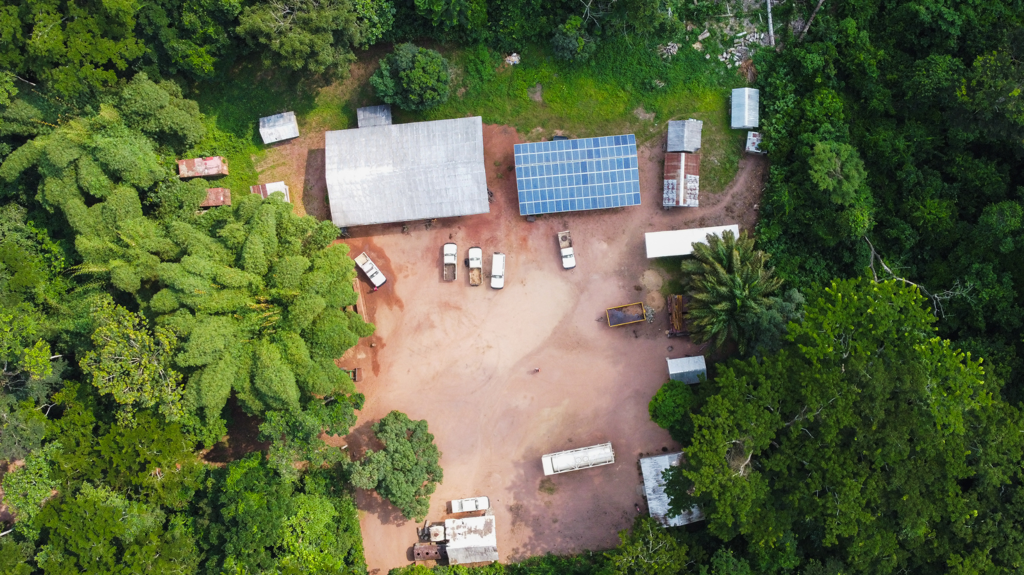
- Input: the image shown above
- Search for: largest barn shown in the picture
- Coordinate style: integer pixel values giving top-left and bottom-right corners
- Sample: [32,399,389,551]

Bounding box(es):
[325,116,490,226]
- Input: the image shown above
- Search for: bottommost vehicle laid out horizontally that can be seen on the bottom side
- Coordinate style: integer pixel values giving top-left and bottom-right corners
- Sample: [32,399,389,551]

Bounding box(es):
[450,495,491,513]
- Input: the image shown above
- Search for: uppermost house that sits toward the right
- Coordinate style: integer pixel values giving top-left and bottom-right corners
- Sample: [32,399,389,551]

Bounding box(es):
[729,87,759,128]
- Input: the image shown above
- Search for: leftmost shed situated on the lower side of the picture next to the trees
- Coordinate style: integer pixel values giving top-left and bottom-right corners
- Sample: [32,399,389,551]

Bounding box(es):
[445,514,498,565]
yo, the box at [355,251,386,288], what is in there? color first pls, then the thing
white truck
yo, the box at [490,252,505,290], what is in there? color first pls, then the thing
white car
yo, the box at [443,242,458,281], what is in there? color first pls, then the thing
white vehicle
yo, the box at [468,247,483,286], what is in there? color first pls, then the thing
white vehicle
